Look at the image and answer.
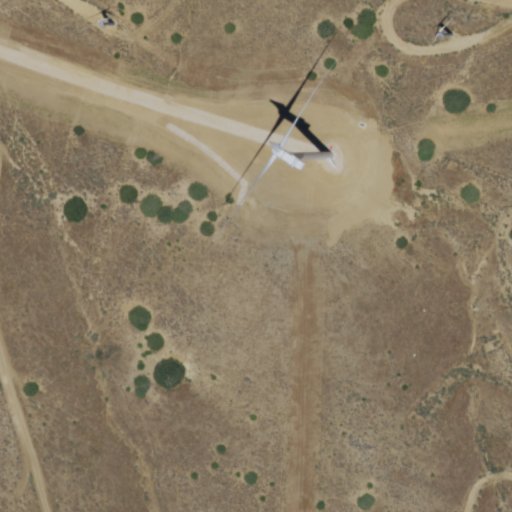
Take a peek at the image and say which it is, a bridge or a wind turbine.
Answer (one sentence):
It is a wind turbine that can be seen here.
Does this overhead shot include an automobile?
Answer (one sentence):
No, this view has no automobile in it.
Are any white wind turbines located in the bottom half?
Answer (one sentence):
No, looking in the bottom half, there is no white wind turbine.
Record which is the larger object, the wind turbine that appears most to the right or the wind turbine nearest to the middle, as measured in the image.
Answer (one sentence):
The wind turbine nearest to the middle takes up more space than the wind turbine that appears most to the right.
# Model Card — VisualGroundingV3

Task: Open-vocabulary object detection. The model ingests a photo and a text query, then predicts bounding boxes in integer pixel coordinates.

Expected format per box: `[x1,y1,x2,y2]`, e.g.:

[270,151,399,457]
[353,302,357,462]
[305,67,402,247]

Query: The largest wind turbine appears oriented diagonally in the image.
[222,58,340,236]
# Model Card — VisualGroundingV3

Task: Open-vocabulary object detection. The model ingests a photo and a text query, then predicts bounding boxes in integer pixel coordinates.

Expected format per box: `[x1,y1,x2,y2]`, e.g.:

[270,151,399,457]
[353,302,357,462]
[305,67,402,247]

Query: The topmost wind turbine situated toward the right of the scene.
[428,16,455,44]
